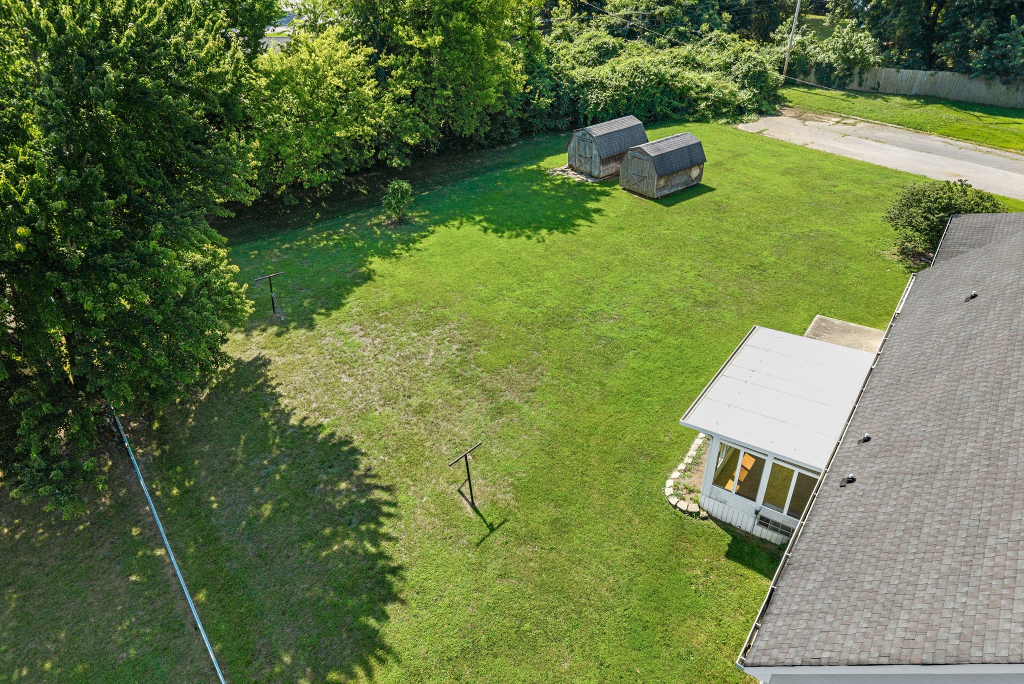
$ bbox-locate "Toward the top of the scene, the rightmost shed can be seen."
[619,133,710,199]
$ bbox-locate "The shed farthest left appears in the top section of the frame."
[566,118,651,178]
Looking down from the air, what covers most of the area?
grass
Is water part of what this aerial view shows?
No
